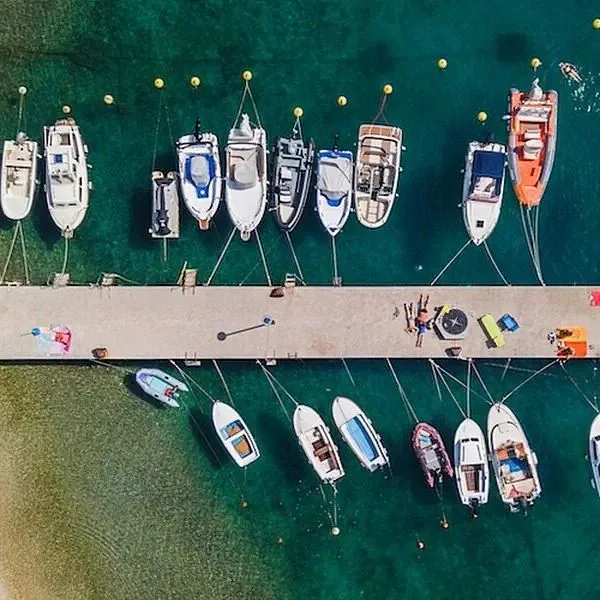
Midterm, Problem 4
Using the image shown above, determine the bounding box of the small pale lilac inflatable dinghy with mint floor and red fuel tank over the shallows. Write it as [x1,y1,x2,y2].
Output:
[137,371,189,406]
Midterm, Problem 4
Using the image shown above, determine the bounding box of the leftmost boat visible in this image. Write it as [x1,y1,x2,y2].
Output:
[1,131,41,221]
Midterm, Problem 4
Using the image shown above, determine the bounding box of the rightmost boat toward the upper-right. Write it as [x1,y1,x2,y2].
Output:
[502,79,556,207]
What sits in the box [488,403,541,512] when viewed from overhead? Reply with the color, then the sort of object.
white boat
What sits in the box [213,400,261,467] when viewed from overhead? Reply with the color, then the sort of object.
white boat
